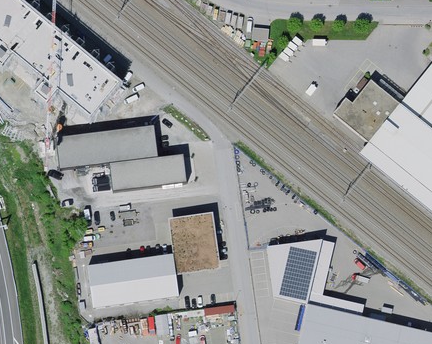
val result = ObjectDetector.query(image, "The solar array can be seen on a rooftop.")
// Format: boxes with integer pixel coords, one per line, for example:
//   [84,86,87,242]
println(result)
[280,248,316,300]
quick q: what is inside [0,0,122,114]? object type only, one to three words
building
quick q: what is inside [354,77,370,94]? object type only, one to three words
vehicle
